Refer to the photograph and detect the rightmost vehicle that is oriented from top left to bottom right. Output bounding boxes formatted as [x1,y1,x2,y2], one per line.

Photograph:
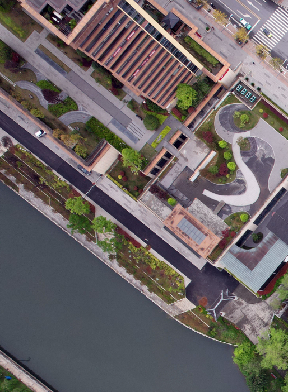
[260,25,274,39]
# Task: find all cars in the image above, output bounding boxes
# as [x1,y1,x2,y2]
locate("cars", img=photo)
[260,25,274,39]
[76,161,90,173]
[32,127,46,138]
[238,16,252,29]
